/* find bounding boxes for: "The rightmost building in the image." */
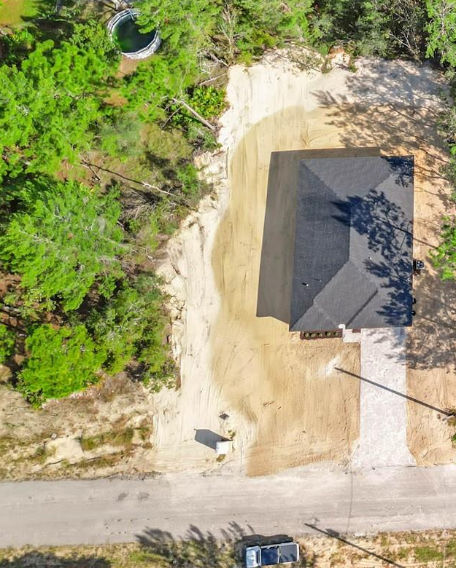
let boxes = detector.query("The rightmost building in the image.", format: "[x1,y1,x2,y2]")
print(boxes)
[291,156,414,331]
